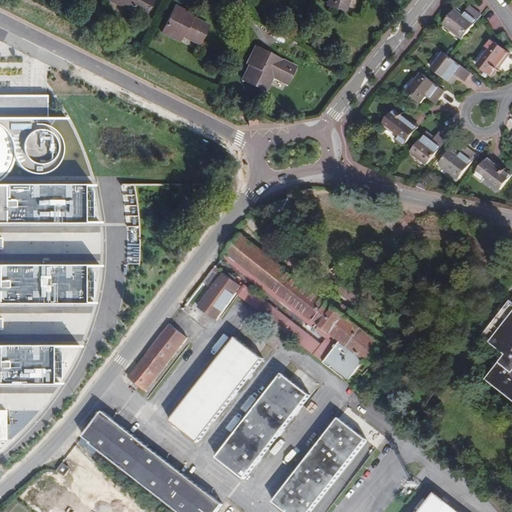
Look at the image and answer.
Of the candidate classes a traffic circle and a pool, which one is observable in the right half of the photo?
traffic circle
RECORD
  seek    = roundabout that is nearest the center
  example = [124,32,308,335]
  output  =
[212,112,347,202]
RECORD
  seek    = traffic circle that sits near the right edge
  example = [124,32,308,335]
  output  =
[460,82,512,136]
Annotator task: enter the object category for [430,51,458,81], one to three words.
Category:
house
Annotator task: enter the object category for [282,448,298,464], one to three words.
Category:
vehicle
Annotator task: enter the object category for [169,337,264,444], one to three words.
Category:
building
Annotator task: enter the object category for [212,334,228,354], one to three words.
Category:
vehicle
